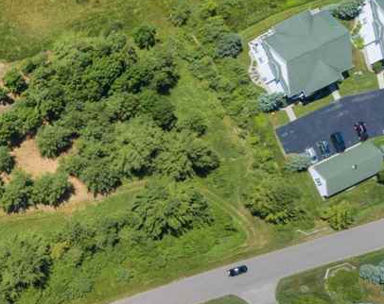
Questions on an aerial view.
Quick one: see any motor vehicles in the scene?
Yes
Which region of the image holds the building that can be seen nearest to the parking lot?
right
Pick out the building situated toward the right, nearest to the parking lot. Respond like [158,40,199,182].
[307,141,383,196]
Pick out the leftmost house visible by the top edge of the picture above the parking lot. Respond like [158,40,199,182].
[251,6,354,98]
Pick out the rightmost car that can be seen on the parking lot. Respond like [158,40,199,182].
[353,119,370,142]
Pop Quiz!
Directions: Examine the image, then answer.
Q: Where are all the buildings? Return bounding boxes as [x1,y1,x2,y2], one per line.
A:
[353,0,384,62]
[251,6,354,98]
[307,141,383,196]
